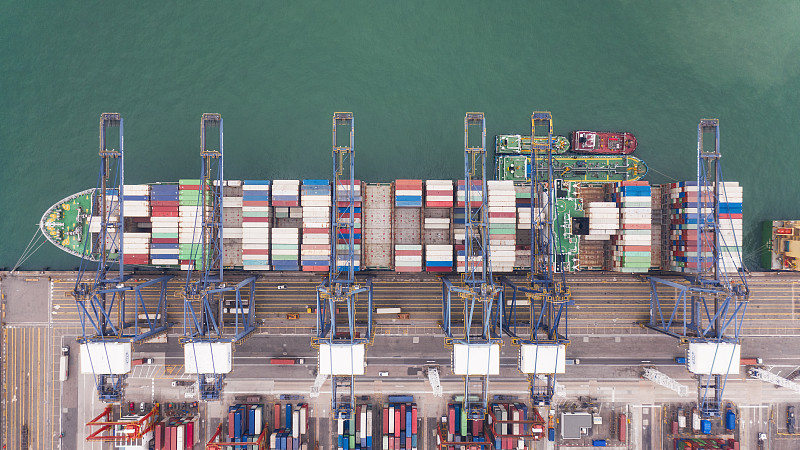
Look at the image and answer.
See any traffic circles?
No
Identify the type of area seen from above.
port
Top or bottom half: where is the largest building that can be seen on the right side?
bottom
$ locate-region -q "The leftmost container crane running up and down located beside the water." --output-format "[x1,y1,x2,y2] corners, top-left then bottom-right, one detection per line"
[62,113,185,405]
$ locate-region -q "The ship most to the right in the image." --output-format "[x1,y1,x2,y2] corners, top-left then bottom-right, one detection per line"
[762,220,800,270]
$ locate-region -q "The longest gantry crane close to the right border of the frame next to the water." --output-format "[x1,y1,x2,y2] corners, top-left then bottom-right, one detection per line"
[633,120,760,422]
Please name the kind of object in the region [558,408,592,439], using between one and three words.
building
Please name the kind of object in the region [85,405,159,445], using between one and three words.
container crane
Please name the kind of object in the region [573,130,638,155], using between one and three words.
boat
